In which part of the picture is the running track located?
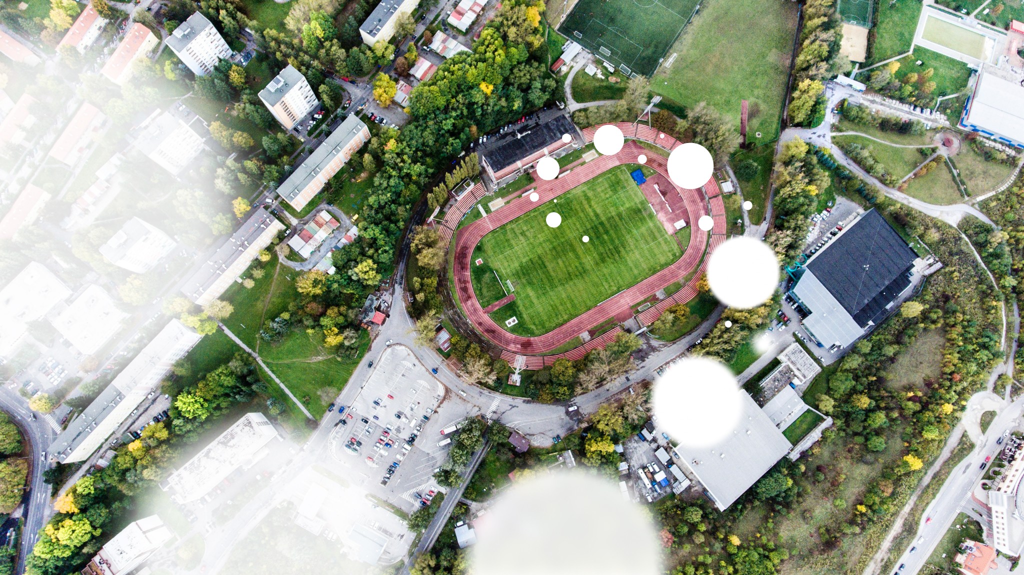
center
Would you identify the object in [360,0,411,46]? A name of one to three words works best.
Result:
building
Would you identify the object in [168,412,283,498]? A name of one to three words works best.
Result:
building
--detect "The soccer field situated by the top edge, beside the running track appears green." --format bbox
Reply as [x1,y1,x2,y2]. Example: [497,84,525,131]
[557,0,703,79]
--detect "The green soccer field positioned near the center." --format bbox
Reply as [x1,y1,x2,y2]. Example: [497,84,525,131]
[471,163,691,337]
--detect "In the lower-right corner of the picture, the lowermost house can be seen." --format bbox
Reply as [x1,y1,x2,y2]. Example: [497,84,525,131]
[959,540,996,575]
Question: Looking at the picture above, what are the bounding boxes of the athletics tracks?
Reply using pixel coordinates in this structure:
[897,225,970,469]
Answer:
[447,139,711,358]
